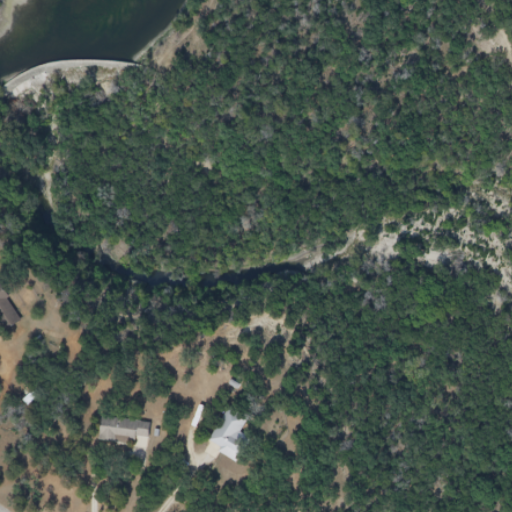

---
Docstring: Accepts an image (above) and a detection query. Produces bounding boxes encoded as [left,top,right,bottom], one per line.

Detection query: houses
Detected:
[98,419,151,444]
[212,410,246,462]
[0,288,20,324]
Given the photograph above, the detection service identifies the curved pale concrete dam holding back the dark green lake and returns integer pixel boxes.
[4,60,140,99]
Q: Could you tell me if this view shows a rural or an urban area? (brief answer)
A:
rural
